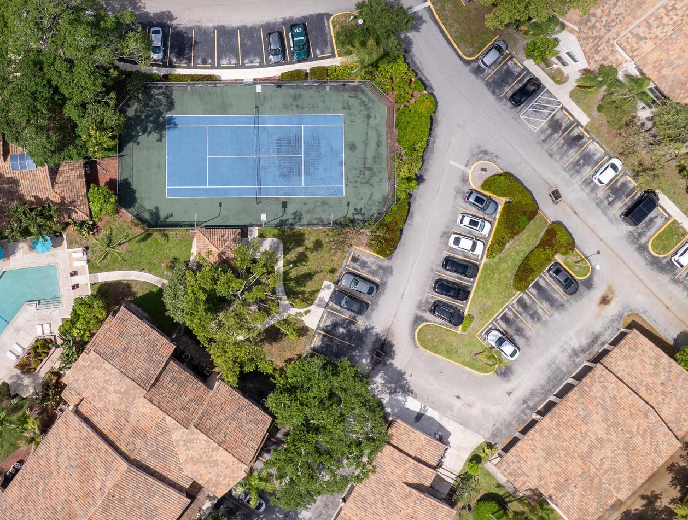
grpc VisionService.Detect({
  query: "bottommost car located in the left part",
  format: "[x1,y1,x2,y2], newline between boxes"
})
[232,487,268,515]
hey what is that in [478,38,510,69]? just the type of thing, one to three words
car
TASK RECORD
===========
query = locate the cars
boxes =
[341,273,377,298]
[546,262,580,297]
[331,291,369,316]
[670,240,688,268]
[478,38,510,69]
[619,189,658,227]
[441,256,479,279]
[432,279,470,301]
[232,487,268,515]
[455,212,492,238]
[486,330,521,362]
[591,157,622,187]
[149,25,165,62]
[289,23,308,61]
[265,27,284,65]
[428,301,466,326]
[462,189,500,216]
[508,76,543,107]
[446,233,485,256]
